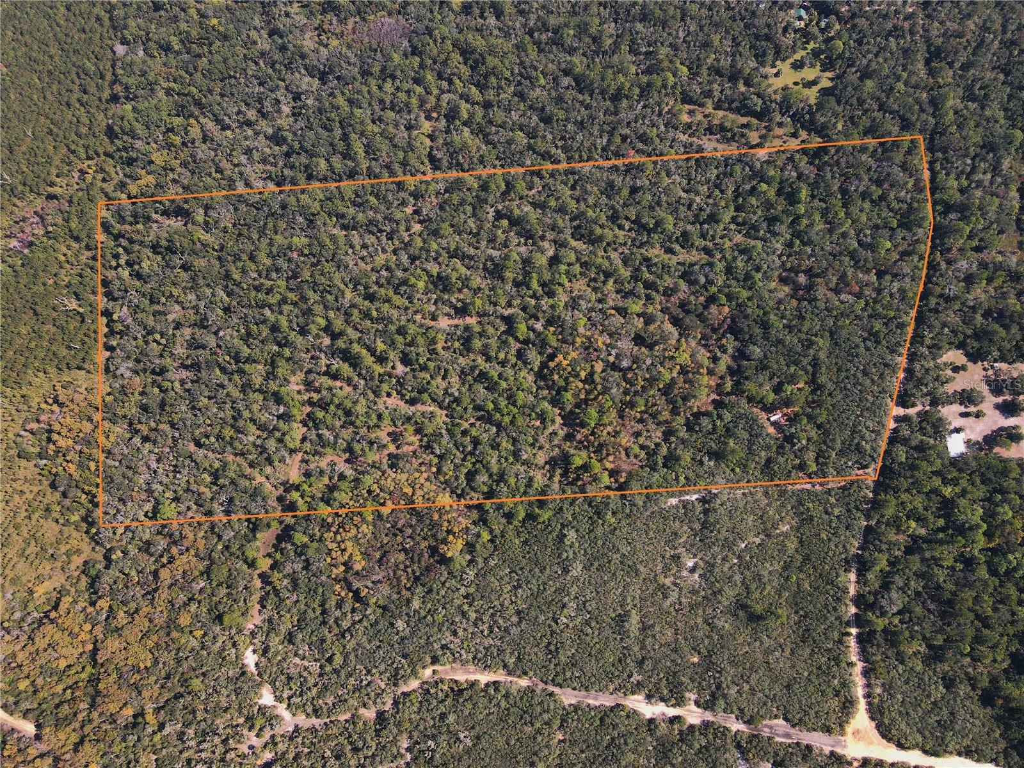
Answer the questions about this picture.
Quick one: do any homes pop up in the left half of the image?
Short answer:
No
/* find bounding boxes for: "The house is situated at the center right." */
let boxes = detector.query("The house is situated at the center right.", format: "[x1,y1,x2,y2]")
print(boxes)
[940,432,968,457]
